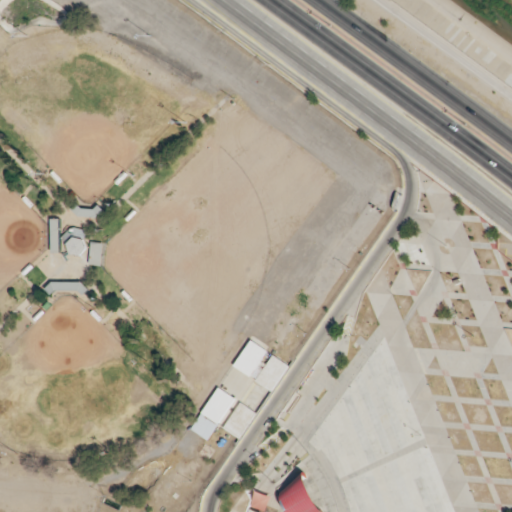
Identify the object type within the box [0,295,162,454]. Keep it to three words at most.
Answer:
baseball field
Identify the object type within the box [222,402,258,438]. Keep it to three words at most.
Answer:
building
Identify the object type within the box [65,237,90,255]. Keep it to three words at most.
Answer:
building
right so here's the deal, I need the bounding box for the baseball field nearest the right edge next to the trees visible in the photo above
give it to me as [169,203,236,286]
[104,106,332,380]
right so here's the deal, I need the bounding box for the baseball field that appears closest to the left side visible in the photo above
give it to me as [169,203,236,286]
[0,188,46,287]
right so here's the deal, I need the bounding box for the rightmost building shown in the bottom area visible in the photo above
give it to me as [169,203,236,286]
[280,472,328,512]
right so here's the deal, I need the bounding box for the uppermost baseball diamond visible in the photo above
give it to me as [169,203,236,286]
[0,32,190,206]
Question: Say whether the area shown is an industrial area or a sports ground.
sports ground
